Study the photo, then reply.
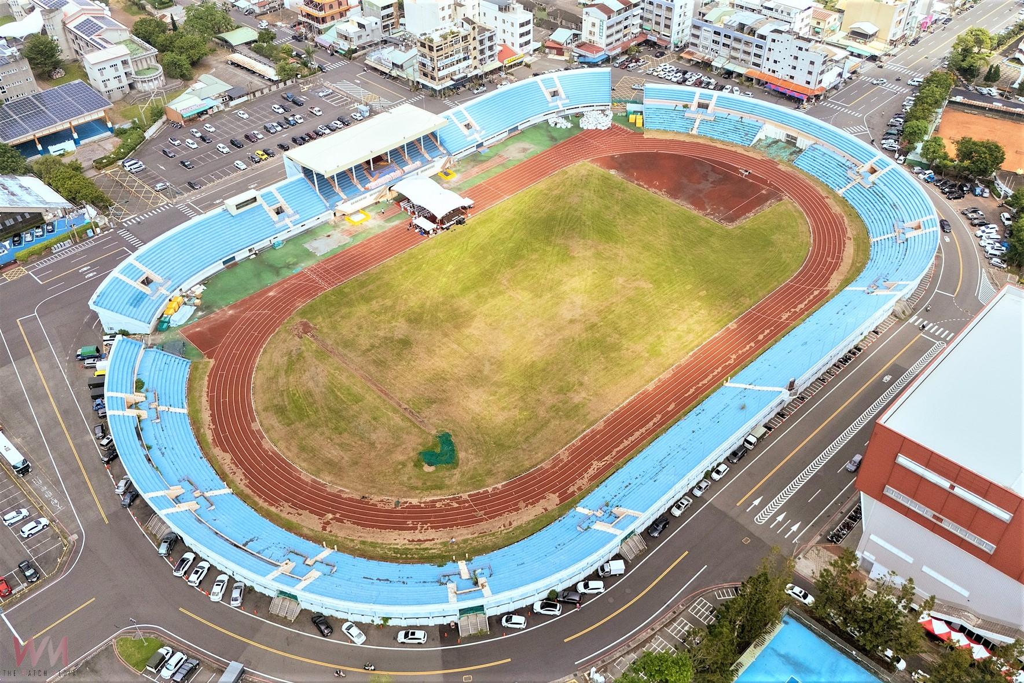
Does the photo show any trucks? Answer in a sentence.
Yes, the image includes a truck.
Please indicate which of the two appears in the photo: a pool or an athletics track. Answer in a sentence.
The one in the frame is an athletics track.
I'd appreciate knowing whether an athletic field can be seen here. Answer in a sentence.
Yes, this view includes an athletic field.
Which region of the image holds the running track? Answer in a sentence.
The running track is located in the center region of the scene.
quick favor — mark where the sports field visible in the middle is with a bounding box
[251,153,811,499]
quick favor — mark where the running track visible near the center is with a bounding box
[200,136,852,543]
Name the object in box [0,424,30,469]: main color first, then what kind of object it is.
white bus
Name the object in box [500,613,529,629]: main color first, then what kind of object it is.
white car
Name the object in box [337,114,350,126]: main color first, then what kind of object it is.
gray vehicle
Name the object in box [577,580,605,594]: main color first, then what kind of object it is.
white car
